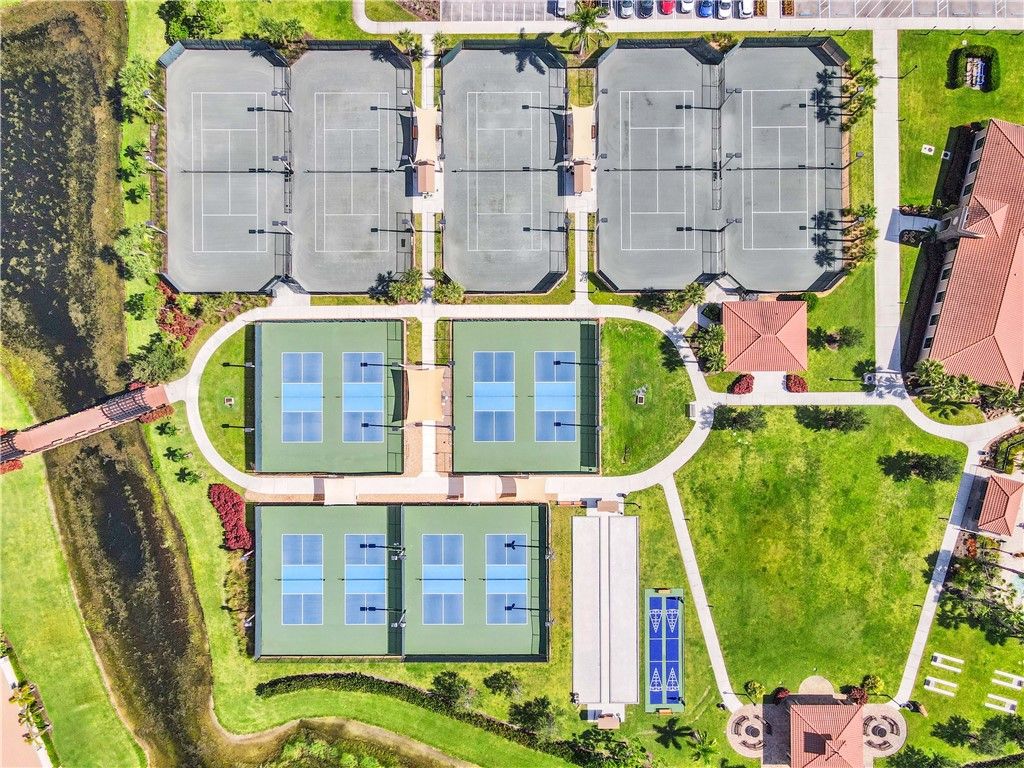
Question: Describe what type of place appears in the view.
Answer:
sports ground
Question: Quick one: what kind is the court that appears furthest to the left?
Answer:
tennis court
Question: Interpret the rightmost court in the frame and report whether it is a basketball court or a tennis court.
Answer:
tennis court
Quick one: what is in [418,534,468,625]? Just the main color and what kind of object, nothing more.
blue sports court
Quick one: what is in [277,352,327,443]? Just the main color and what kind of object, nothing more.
blue sports court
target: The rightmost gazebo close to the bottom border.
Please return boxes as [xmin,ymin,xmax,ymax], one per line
[785,698,863,768]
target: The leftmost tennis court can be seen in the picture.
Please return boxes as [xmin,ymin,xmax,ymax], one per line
[166,49,290,293]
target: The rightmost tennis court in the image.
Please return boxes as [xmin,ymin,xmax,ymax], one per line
[722,47,844,290]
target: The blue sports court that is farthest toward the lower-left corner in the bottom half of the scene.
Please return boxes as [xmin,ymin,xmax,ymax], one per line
[277,534,327,625]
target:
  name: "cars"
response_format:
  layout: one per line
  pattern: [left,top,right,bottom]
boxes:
[699,0,715,15]
[640,0,655,16]
[662,0,675,13]
[620,0,636,16]
[739,0,755,17]
[718,0,733,17]
[681,0,694,11]
[554,0,569,13]
[597,0,612,14]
